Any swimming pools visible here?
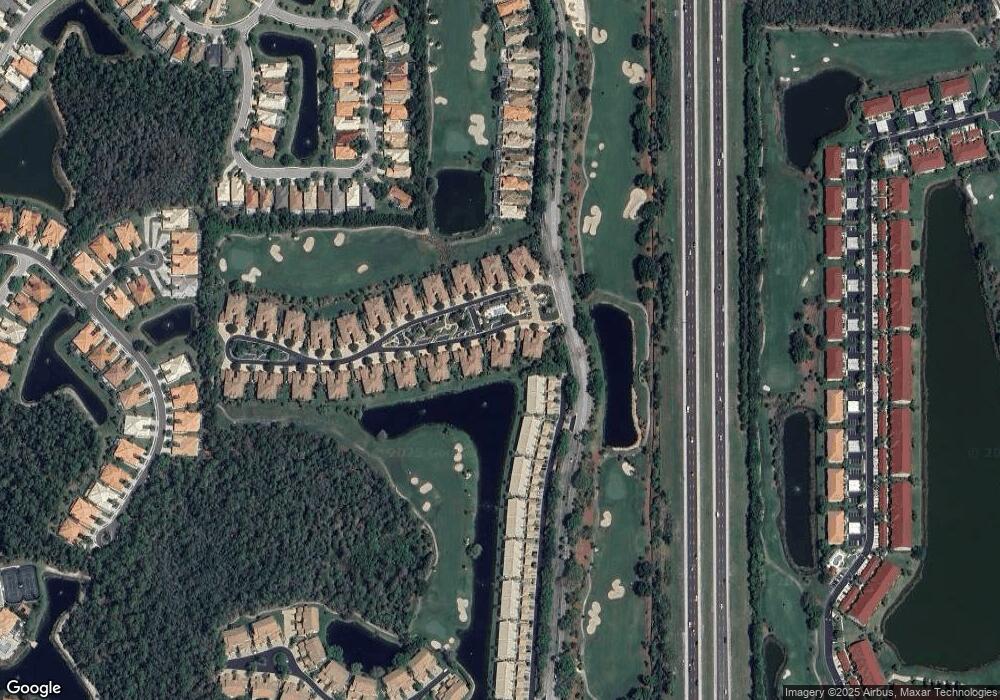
Yes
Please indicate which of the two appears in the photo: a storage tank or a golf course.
golf course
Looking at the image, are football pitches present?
No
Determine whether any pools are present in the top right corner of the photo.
Yes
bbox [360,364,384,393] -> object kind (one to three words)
house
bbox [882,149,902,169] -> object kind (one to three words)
swimming pool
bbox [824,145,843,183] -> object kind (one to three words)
building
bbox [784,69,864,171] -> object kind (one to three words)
pond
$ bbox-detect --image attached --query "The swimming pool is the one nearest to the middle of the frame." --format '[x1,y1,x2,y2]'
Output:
[486,304,509,318]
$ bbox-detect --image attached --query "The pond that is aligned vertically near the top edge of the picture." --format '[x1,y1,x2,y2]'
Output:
[260,32,318,159]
